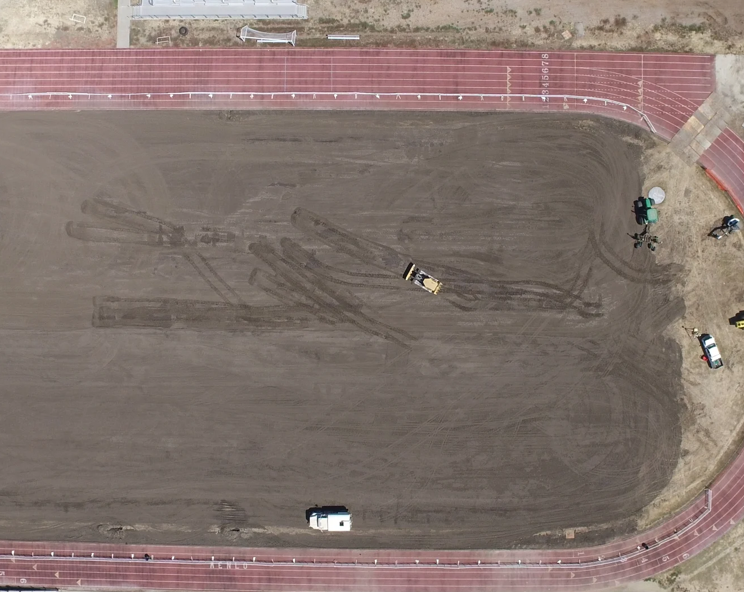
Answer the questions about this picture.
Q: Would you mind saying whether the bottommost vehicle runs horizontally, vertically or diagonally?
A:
horizontally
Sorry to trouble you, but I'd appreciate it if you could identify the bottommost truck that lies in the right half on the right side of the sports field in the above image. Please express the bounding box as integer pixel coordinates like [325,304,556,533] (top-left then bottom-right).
[700,334,725,372]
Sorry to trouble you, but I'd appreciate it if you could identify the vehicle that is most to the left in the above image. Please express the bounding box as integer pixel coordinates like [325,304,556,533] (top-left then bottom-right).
[308,511,353,531]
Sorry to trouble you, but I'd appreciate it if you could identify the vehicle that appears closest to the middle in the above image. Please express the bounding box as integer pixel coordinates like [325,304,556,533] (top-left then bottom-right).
[407,265,441,292]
